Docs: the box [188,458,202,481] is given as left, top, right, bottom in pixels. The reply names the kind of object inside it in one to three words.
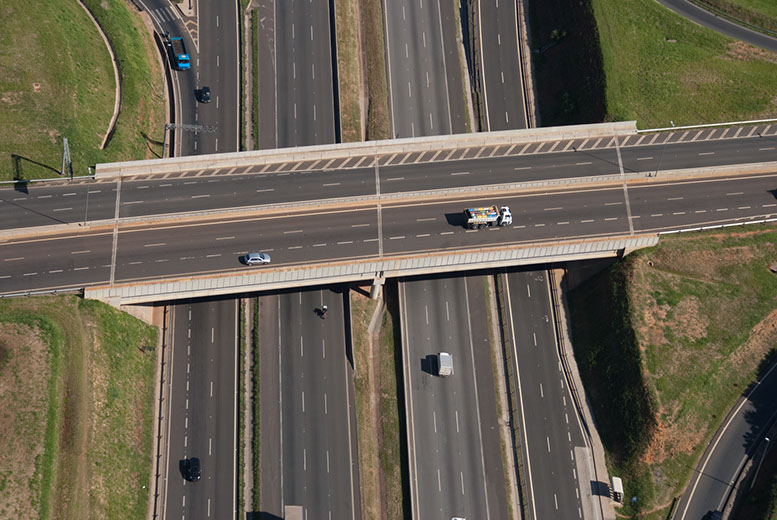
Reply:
vehicle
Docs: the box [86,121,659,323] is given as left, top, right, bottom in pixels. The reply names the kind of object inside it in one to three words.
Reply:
overpass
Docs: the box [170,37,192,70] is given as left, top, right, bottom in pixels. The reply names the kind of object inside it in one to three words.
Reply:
truck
